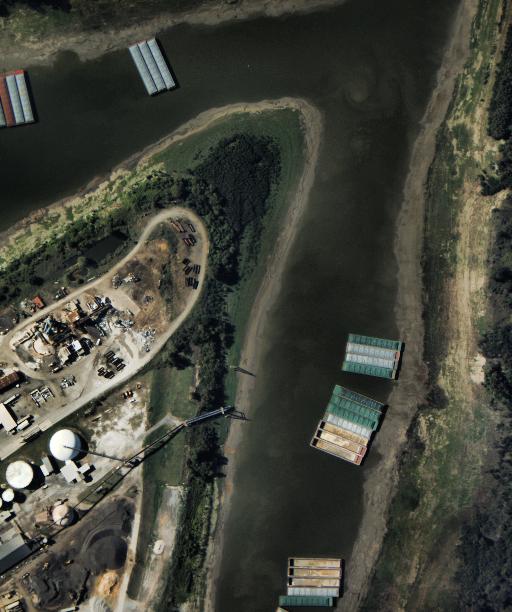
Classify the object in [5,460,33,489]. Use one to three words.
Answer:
storage tank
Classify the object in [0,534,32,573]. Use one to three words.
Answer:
shed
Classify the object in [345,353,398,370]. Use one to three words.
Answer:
ship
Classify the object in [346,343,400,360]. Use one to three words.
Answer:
ship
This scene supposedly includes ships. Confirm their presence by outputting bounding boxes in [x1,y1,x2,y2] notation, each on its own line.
[346,343,400,360]
[287,568,340,577]
[329,394,381,423]
[287,577,339,586]
[15,70,34,123]
[312,431,364,459]
[0,73,16,126]
[6,72,24,124]
[147,37,175,89]
[316,422,368,449]
[280,596,333,605]
[333,385,385,414]
[288,559,341,568]
[0,96,7,127]
[342,362,396,380]
[345,353,398,370]
[308,440,360,468]
[320,413,373,441]
[138,40,165,91]
[324,404,376,432]
[287,587,339,596]
[129,43,157,95]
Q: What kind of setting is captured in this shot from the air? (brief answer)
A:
port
